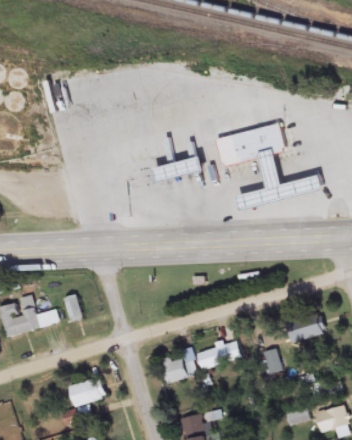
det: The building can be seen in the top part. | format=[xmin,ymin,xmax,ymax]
[218,122,286,166]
